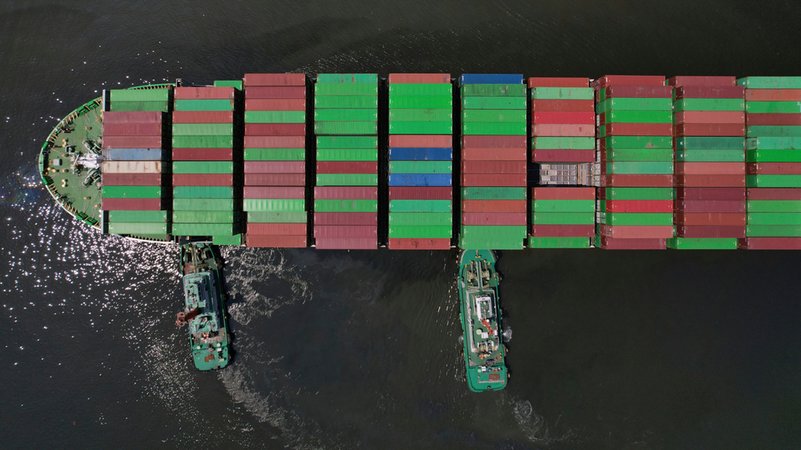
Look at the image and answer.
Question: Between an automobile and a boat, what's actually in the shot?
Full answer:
Of the two, only a boat appears.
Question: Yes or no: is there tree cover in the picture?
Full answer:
No, the scene doesn't show any tree cover.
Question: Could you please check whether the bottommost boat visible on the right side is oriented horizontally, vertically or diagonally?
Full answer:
I'd say the bottommost boat visible on the right side is aligned vertically in the picture.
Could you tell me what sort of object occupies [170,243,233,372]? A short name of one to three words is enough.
boat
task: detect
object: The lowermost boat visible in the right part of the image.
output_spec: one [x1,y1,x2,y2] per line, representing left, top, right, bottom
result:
[457,248,510,391]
